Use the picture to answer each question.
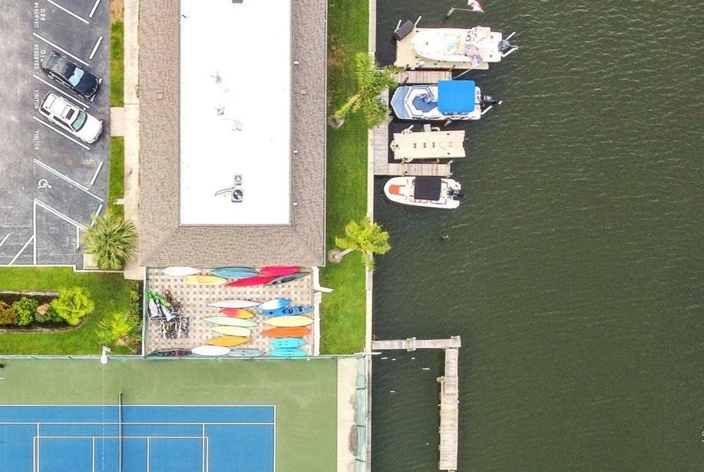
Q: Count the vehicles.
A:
2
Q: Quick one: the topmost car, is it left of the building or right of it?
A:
on its left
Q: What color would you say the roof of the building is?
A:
white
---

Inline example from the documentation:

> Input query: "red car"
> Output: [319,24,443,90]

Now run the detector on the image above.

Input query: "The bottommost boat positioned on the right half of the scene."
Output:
[383,175,469,208]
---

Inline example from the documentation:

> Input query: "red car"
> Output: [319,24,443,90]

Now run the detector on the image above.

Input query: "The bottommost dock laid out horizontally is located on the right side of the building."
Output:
[389,162,452,181]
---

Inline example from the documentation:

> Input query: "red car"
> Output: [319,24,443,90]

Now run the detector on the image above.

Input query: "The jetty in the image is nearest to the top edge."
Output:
[391,16,517,72]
